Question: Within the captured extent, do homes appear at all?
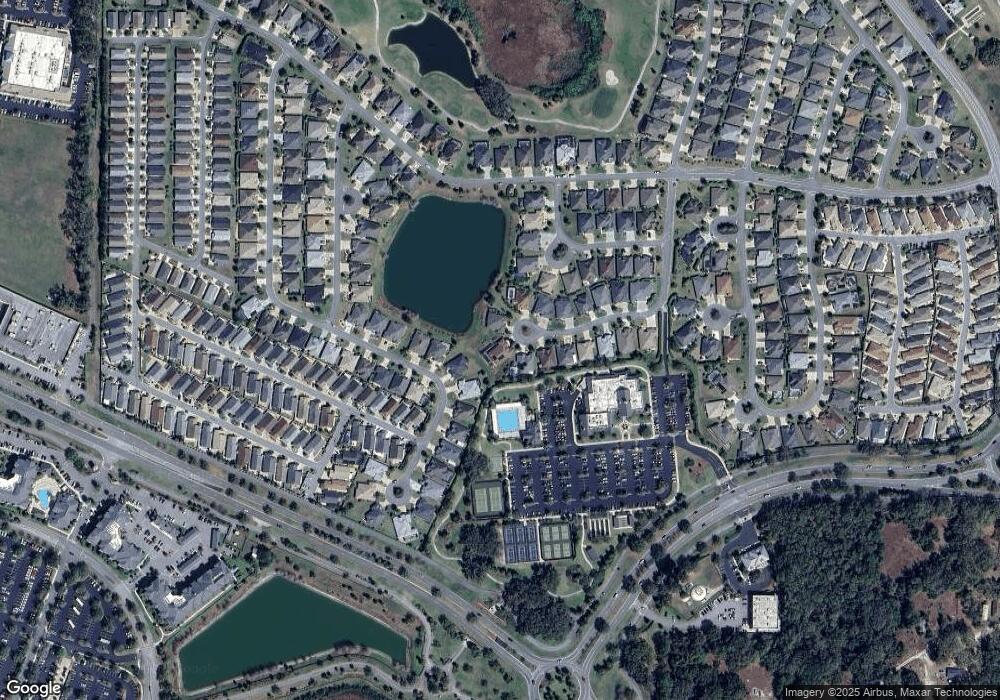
Yes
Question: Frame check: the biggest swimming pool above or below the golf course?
below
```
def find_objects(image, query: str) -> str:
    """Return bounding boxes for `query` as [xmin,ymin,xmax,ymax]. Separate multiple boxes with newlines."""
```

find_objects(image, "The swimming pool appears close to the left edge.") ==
[28,475,60,515]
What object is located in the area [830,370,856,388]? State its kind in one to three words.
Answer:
house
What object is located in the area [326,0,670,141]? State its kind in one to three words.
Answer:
golf course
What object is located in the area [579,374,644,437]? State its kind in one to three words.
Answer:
building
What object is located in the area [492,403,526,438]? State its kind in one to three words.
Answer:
swimming pool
